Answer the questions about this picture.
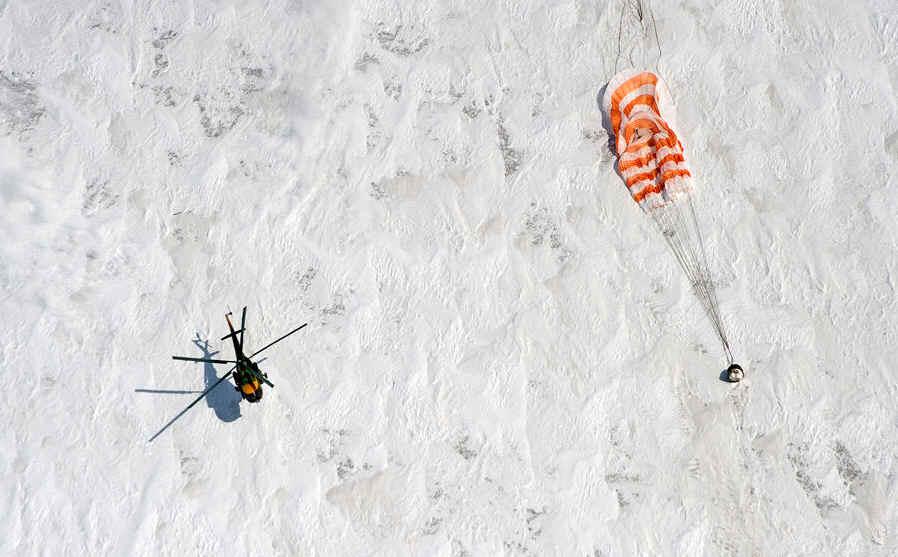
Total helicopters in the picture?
one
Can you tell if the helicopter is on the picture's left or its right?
left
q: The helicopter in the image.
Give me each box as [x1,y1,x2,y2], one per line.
[172,302,308,408]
